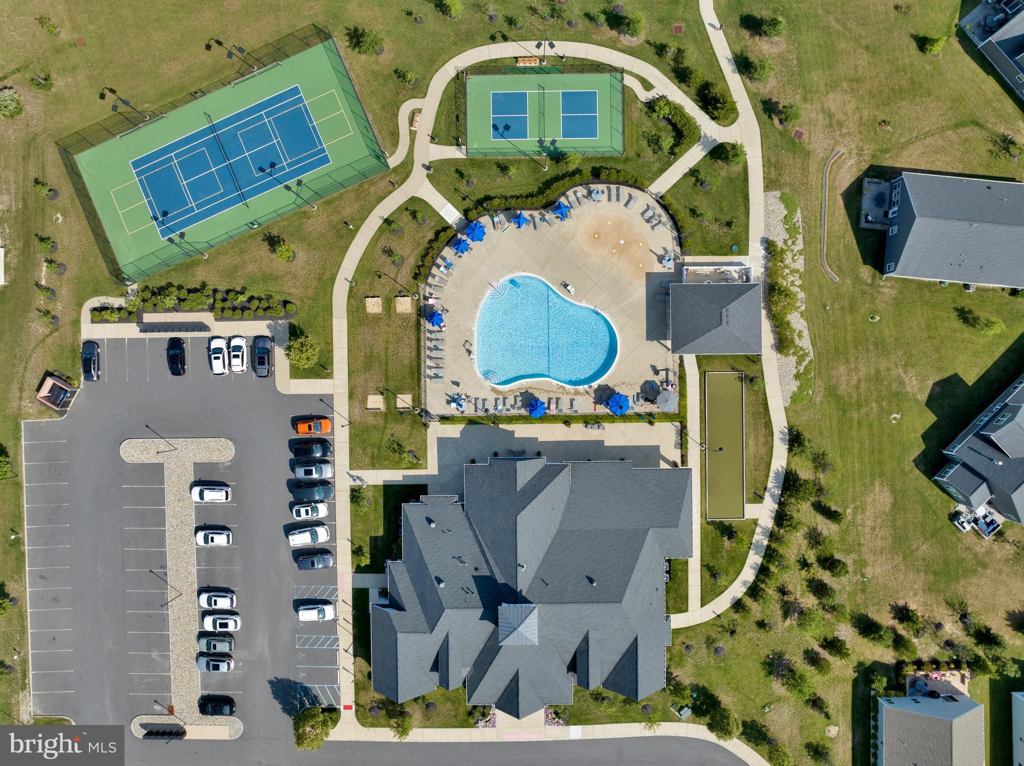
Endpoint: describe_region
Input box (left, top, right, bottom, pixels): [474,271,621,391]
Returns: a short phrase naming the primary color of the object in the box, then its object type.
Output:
blue swimming pool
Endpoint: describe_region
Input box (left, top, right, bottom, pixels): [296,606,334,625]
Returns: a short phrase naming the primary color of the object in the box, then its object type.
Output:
white car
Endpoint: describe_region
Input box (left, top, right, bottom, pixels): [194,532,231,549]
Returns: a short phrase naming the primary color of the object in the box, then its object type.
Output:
white car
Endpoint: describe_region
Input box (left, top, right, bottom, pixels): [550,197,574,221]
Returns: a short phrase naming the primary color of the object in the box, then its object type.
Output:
blue umbrella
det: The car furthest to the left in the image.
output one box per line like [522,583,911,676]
[78,341,99,380]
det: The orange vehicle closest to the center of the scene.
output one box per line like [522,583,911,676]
[294,419,330,436]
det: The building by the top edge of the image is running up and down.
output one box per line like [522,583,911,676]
[979,2,1024,99]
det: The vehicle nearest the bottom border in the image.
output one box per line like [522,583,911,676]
[198,701,235,721]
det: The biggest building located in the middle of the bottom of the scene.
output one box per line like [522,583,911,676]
[371,457,693,720]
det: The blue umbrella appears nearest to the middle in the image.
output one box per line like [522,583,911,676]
[527,398,547,417]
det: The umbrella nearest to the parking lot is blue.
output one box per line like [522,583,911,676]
[427,310,444,327]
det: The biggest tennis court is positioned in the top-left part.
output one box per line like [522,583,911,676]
[74,39,388,283]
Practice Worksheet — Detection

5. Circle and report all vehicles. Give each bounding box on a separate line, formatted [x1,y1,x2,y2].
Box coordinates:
[165,338,185,375]
[286,527,329,548]
[291,503,328,521]
[295,554,333,573]
[293,463,332,481]
[252,337,272,376]
[291,484,333,502]
[78,341,99,380]
[190,487,230,505]
[228,338,247,373]
[198,701,235,721]
[196,657,233,677]
[202,616,239,635]
[294,419,330,436]
[198,594,235,613]
[208,338,229,375]
[296,606,334,625]
[292,441,331,459]
[197,637,233,656]
[194,532,231,549]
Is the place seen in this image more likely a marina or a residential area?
residential area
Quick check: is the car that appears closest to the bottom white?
No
